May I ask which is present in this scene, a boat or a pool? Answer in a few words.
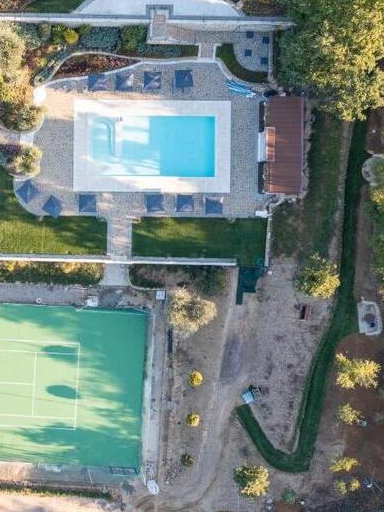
pool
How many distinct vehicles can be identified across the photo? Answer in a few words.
0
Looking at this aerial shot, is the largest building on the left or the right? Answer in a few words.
right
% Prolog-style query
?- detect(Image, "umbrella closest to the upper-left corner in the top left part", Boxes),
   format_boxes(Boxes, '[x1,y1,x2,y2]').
[86,72,105,91]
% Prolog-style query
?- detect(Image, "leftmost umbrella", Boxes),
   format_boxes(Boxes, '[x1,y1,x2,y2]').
[14,178,40,204]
